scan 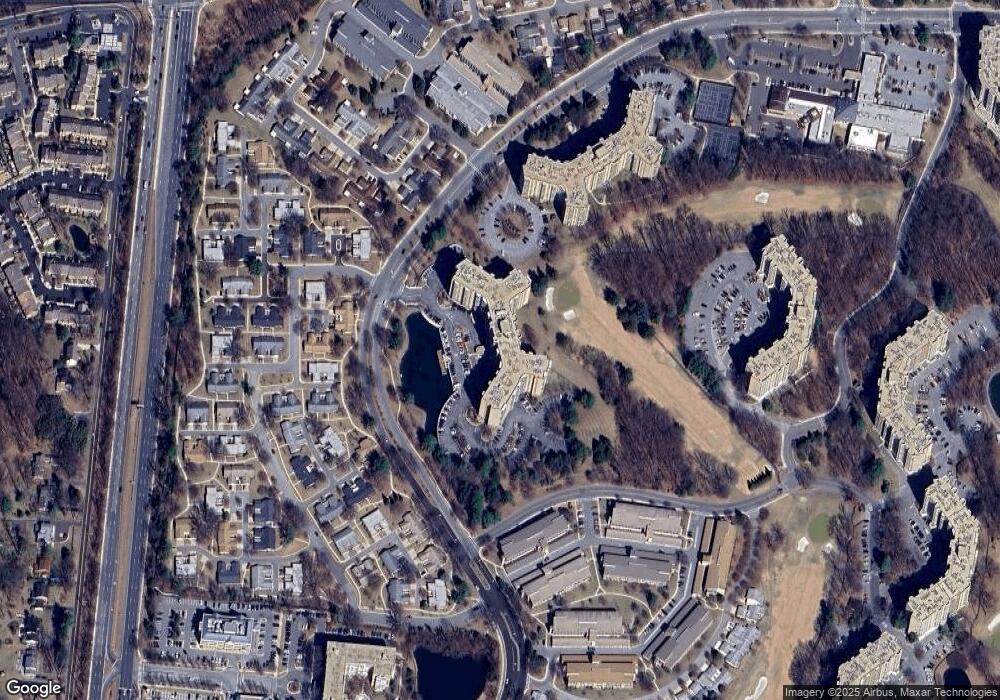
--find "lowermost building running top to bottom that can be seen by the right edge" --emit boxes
[903,476,981,642]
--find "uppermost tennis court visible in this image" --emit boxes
[695,79,735,126]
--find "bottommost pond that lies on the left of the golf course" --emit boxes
[414,644,494,700]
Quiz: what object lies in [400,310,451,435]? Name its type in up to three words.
pond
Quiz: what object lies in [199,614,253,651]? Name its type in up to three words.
building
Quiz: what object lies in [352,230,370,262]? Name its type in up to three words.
house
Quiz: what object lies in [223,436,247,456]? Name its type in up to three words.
house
